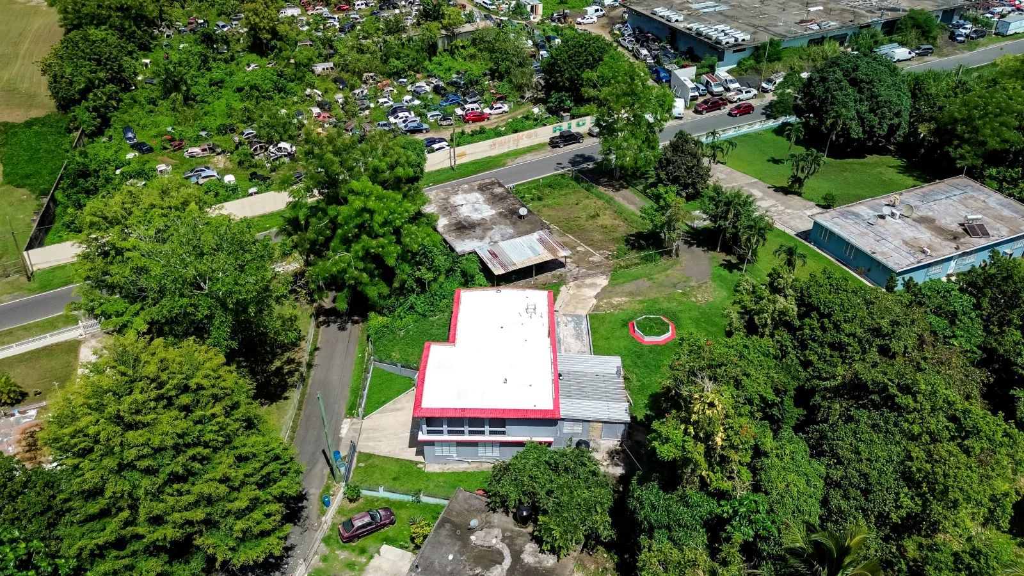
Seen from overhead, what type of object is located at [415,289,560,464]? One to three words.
house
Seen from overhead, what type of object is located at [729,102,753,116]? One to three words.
car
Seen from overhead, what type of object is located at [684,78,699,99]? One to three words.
vehicle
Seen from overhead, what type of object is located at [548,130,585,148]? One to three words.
vehicle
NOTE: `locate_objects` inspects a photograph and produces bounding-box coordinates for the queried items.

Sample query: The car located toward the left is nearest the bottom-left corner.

[337,513,395,546]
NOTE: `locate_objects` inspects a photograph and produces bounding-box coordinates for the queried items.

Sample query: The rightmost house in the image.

[809,175,1024,288]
